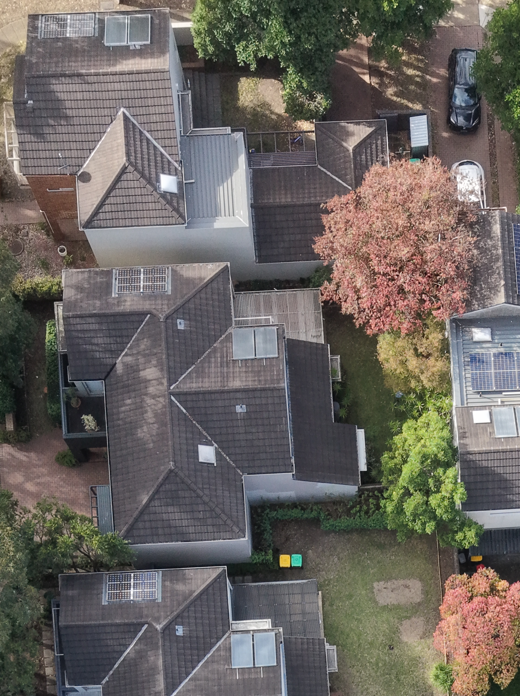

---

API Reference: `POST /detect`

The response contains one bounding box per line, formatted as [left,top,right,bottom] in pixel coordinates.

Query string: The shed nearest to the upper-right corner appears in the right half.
[410,115,428,163]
